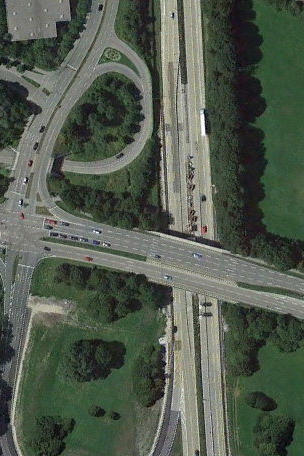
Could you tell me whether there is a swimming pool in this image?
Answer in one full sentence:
No, the photo shows no swimming pool.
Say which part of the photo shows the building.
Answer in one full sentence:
The building sits in the top left section of the image.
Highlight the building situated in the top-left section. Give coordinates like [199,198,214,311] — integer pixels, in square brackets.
[8,0,70,40]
